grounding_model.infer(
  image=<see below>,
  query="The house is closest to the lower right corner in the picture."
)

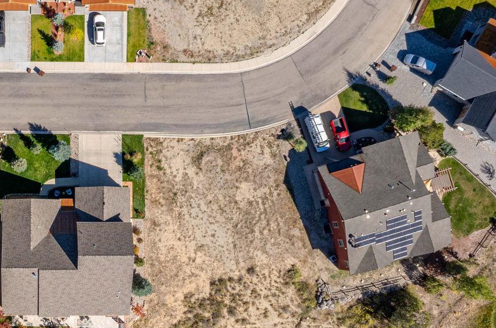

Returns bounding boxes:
[309,130,452,274]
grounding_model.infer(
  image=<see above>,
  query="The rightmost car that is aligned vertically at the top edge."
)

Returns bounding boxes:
[92,13,108,47]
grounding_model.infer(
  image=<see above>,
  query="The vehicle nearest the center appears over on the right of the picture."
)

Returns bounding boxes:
[304,113,329,152]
